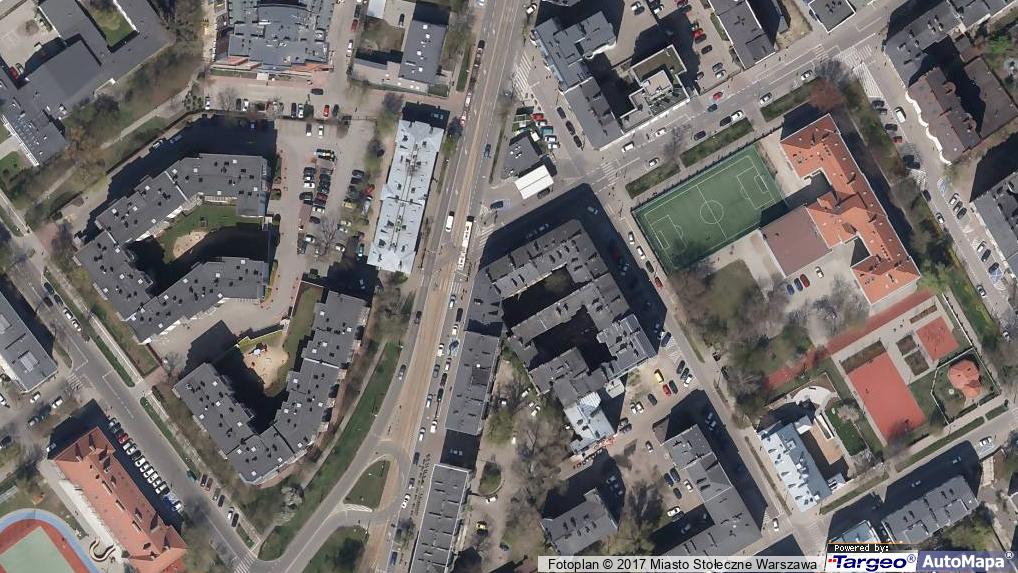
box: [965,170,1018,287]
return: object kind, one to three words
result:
house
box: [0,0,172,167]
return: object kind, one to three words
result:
building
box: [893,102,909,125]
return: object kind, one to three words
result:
vehicle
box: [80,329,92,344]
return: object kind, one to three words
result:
vehicle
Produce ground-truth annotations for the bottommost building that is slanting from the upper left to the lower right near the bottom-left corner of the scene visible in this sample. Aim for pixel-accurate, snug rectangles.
[54,426,192,573]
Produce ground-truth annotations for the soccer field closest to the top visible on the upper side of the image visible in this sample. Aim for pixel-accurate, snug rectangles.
[631,144,790,277]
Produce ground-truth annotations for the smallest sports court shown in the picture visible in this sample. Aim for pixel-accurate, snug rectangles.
[917,317,959,360]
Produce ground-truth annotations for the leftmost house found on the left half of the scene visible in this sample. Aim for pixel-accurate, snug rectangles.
[0,286,61,391]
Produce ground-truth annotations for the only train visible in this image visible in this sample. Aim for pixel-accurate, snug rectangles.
[455,220,474,271]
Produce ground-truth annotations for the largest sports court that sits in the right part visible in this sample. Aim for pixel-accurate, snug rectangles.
[848,352,926,442]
